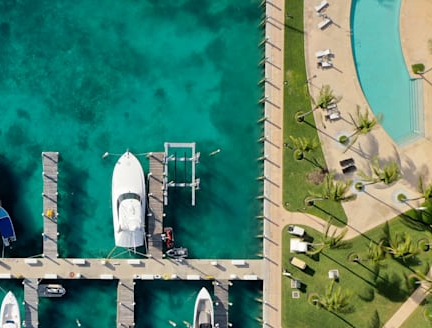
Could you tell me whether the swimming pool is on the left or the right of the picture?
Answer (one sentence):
You can find the swimming pool on the right side of the picture.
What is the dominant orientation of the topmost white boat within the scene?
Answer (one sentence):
The topmost white boat runs from top to bottom in the image.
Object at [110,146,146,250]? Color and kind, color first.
white boat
